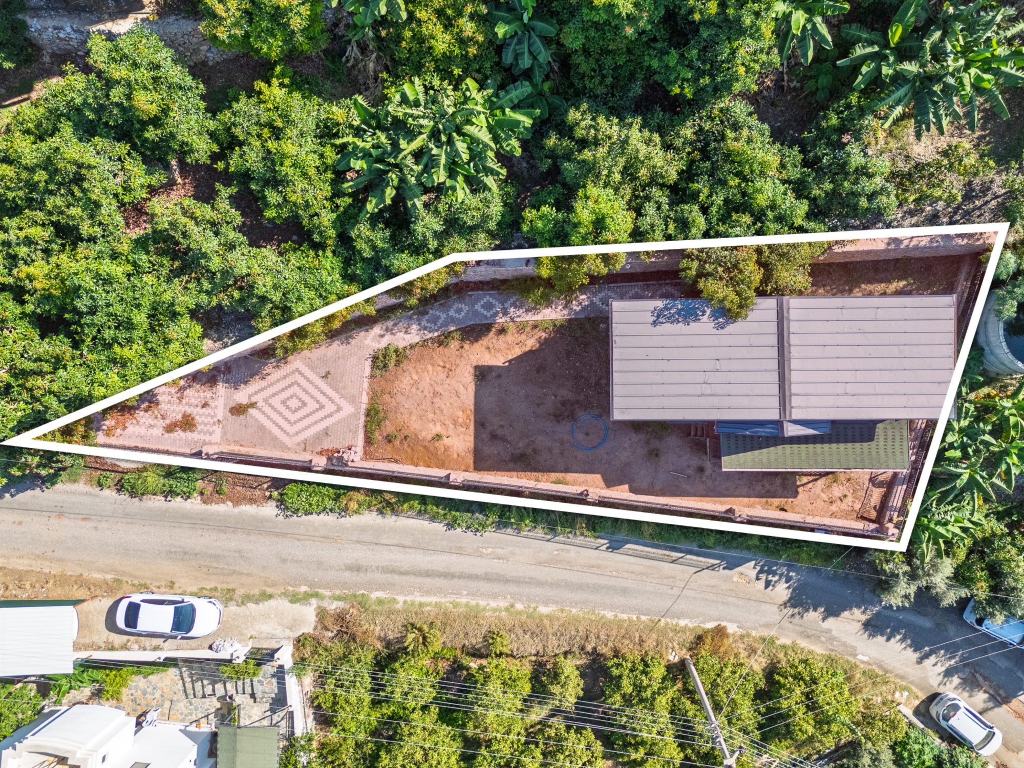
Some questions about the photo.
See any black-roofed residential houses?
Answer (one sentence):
No, the picture doesn't show any black-roofed residential house.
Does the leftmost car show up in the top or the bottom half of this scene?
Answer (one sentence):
The bottom half of the photo is where the leftmost car is.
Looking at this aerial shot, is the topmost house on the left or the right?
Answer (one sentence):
The topmost house is on the right side of the image.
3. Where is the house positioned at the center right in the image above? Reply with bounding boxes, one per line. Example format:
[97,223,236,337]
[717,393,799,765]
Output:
[607,293,959,471]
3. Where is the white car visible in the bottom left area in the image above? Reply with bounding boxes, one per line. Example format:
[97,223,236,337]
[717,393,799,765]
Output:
[115,589,228,648]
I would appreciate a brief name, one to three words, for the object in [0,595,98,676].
shed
